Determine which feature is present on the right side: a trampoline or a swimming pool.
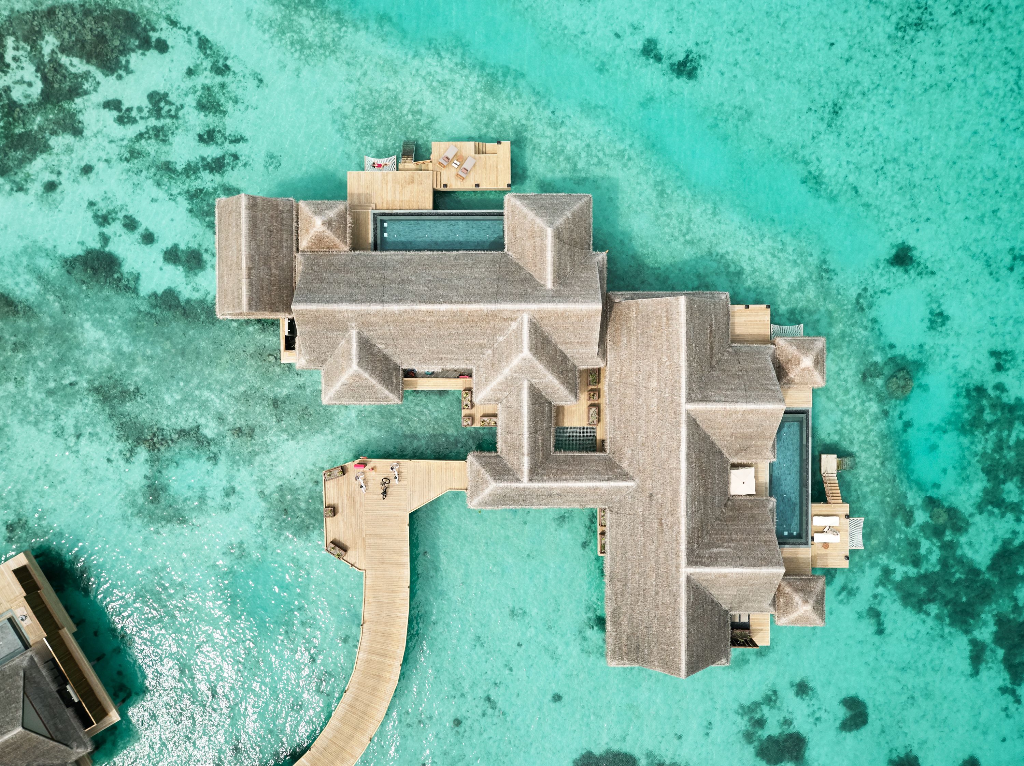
swimming pool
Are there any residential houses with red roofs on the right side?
No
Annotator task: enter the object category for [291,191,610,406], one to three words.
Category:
house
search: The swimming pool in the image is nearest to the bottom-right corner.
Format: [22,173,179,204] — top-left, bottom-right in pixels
[765,407,812,548]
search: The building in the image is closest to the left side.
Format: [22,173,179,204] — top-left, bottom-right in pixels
[0,547,133,766]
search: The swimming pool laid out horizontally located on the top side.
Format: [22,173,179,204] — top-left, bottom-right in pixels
[371,210,507,254]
